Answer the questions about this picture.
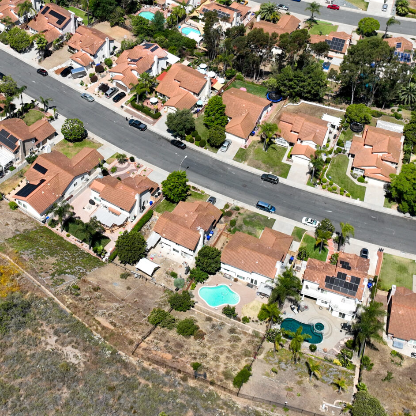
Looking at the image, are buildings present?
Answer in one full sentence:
Yes, there is a building in the image.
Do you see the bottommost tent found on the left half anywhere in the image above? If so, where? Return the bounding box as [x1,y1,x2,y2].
[135,256,160,284]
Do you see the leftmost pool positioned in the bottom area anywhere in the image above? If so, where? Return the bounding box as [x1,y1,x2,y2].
[200,282,241,308]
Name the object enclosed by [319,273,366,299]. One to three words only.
solar panel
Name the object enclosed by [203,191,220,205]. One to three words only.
car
